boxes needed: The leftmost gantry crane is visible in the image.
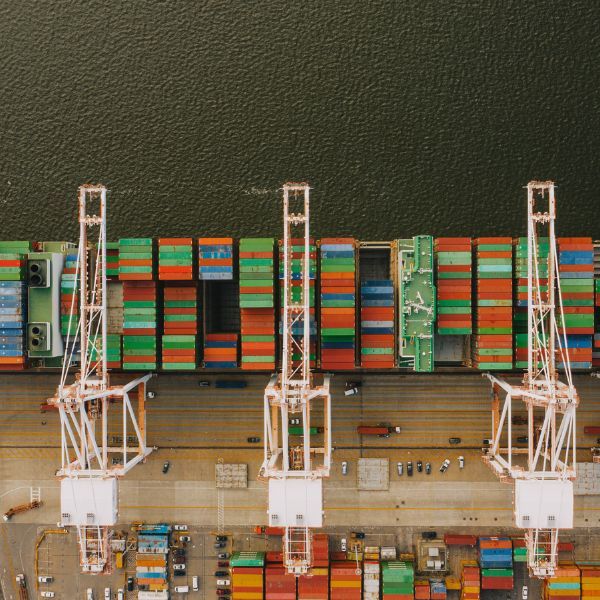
[49,182,162,578]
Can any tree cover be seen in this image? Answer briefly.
No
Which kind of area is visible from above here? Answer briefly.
port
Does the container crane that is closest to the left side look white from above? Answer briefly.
Yes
